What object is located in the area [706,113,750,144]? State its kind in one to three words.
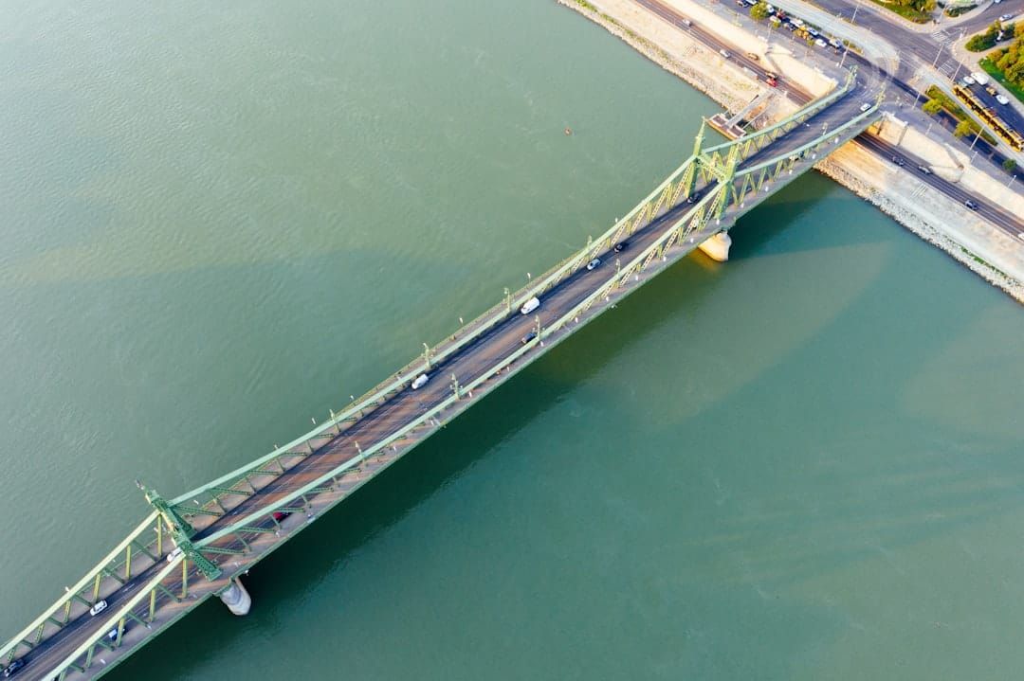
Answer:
pier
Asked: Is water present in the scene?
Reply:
Yes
